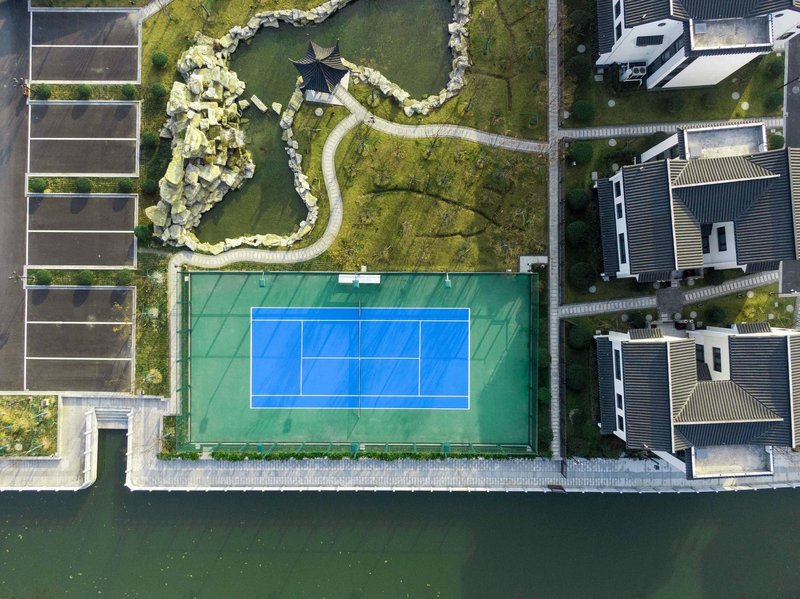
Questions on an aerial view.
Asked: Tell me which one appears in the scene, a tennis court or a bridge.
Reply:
tennis court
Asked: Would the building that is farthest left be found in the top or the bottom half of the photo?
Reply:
top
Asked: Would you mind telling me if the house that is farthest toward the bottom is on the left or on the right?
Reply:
right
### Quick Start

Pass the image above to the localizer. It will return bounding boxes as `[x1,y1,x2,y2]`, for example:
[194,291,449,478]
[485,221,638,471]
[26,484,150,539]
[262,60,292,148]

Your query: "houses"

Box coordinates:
[590,0,800,87]
[589,321,800,476]
[585,123,800,281]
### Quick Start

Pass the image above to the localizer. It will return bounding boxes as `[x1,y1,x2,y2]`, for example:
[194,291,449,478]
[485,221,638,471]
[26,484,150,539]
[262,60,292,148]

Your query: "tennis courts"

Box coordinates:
[188,273,533,445]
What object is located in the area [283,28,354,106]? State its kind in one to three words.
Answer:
building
